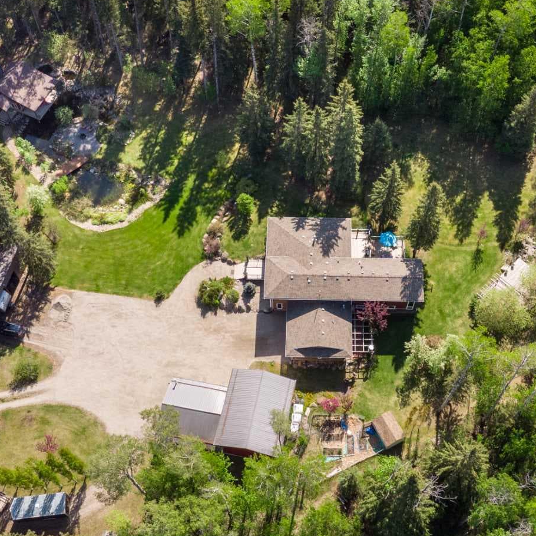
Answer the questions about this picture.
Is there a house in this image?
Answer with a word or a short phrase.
Yes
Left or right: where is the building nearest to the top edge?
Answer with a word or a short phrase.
left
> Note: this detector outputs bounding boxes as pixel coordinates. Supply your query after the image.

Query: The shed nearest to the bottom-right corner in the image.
[372,411,404,449]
